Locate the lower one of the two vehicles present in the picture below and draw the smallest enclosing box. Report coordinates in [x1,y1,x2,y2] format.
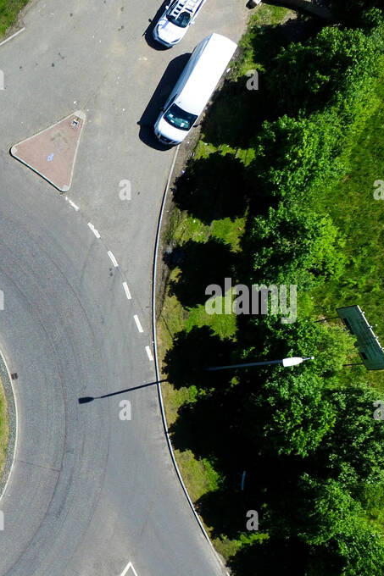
[155,36,236,146]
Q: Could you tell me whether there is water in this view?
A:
No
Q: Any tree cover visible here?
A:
Yes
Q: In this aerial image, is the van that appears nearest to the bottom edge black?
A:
No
